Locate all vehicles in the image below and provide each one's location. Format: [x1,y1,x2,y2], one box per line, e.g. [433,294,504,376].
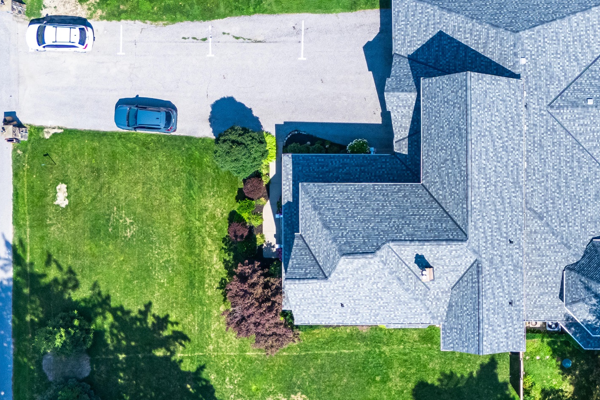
[118,101,179,134]
[29,19,97,52]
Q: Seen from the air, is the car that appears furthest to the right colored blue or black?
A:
blue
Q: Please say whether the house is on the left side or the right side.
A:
right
